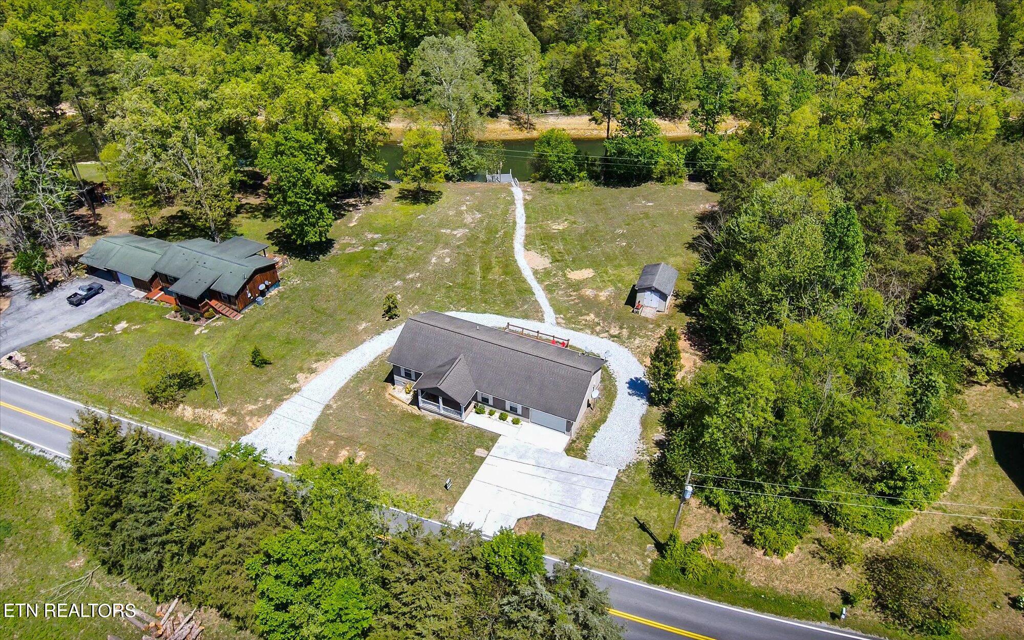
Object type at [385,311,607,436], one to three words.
house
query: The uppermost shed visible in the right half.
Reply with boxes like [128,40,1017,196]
[635,265,679,321]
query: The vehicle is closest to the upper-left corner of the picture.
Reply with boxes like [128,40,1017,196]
[66,283,107,308]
